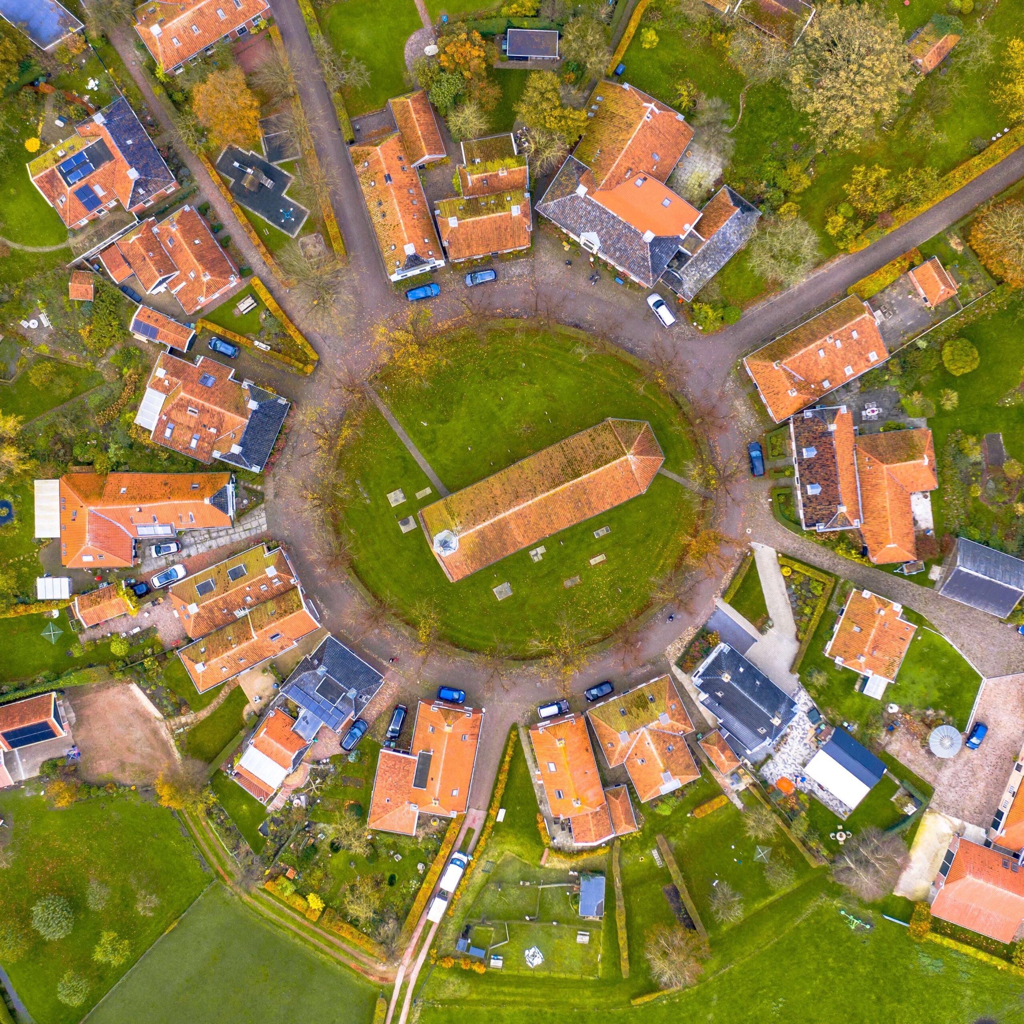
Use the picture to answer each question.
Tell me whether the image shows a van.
Yes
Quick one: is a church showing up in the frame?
Yes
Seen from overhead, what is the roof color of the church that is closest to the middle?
orange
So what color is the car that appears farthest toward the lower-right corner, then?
blue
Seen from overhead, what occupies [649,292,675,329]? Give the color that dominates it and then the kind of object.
white car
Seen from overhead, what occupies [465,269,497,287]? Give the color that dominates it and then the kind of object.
blue car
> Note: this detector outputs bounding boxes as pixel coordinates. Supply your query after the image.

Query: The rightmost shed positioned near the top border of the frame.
[901,22,962,76]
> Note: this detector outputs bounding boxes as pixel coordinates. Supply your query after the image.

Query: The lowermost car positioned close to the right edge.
[965,720,987,751]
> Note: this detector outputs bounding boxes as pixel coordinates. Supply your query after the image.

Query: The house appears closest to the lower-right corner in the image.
[925,832,1024,945]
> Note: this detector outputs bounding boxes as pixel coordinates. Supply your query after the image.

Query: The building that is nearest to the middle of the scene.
[415,418,665,584]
